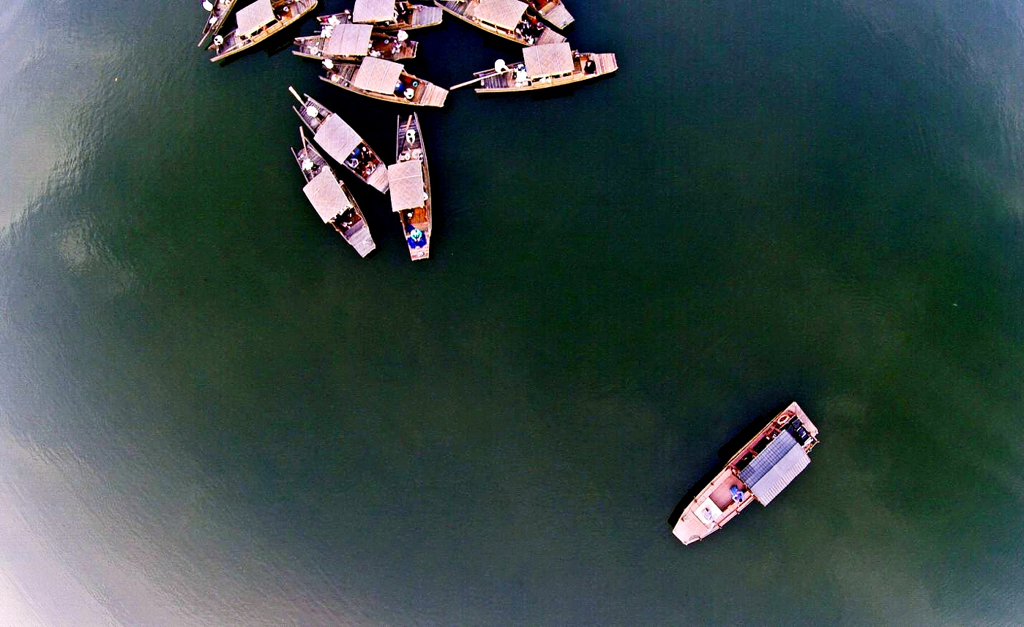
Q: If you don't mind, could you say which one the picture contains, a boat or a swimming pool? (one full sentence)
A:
Of the two, only a boat appears.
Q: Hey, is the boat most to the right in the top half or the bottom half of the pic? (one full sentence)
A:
The boat most to the right is in the bottom half of the image.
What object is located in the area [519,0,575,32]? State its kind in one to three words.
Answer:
boat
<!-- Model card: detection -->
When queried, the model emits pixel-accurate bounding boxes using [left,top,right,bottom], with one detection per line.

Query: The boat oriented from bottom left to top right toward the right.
[672,402,821,548]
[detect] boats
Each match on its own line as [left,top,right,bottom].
[317,0,443,41]
[389,112,435,260]
[292,24,418,68]
[473,42,619,95]
[201,0,243,35]
[318,56,449,111]
[519,0,575,32]
[205,0,318,62]
[437,0,567,49]
[672,402,821,548]
[291,92,391,196]
[289,137,378,258]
